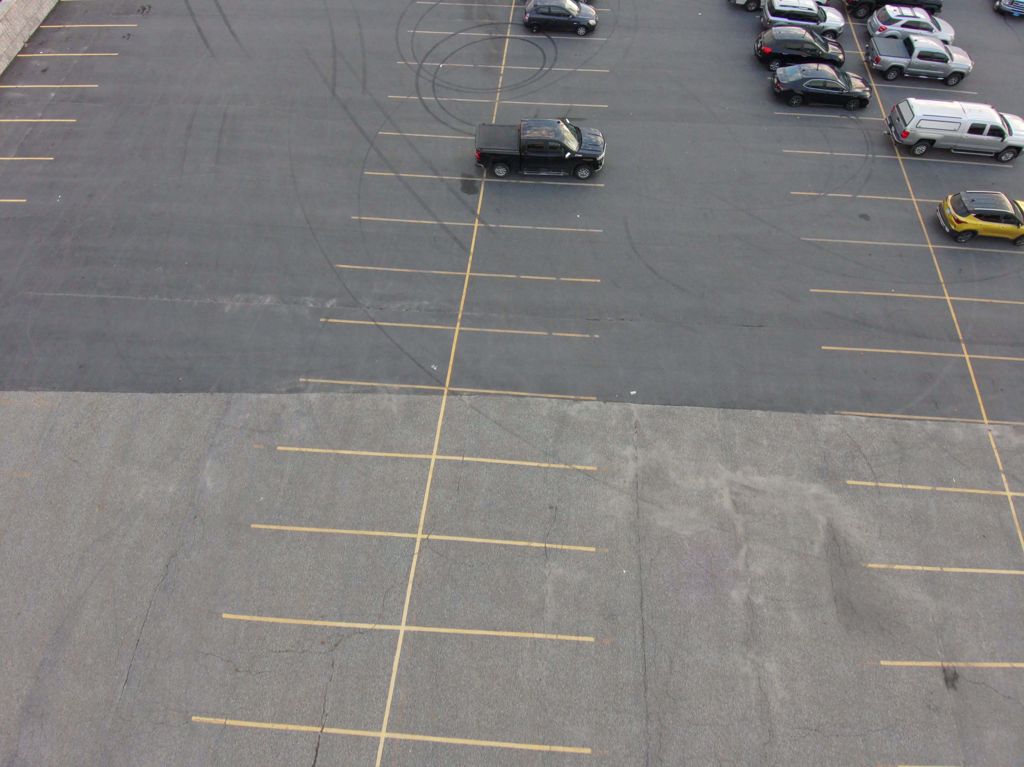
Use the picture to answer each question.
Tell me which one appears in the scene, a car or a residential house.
car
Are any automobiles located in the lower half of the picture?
No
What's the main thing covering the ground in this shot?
paved ground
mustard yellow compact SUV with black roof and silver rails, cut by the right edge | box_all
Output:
[939,188,1024,246]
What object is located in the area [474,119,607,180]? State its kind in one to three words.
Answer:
truck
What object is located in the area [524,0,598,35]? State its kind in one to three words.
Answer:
car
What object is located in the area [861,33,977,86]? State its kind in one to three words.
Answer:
truck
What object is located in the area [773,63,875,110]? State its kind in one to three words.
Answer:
car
